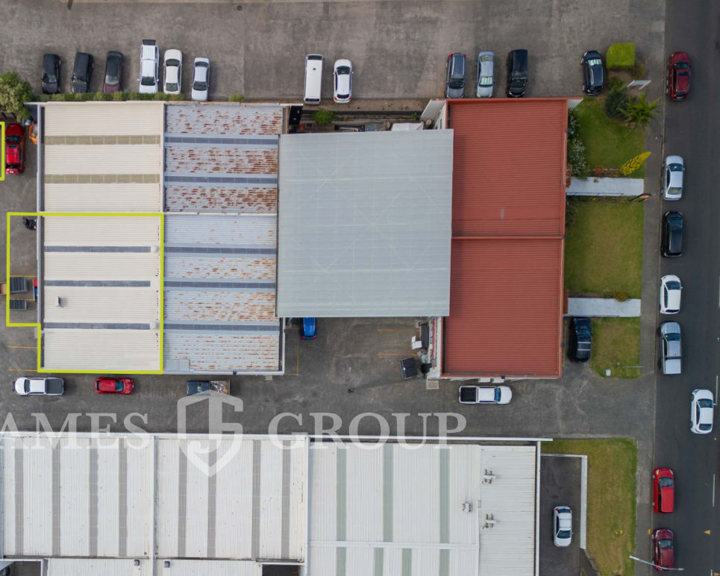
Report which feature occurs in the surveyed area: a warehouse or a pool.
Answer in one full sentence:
Of the two, only a warehouse appears.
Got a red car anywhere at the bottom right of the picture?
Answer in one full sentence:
Yes, the scene does show a red car at the bottom right of the picture.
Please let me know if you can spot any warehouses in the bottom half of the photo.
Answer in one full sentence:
Yes, you'll find a warehouse in the bottom half of the photo.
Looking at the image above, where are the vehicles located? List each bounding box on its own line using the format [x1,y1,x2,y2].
[189,57,211,101]
[662,156,686,202]
[186,380,230,399]
[303,54,326,106]
[660,212,687,258]
[505,47,530,98]
[457,384,511,406]
[567,317,593,363]
[690,389,715,435]
[659,275,684,315]
[651,528,676,571]
[69,50,93,93]
[102,50,124,93]
[445,52,468,99]
[299,318,317,342]
[666,52,692,101]
[651,468,677,513]
[580,51,604,97]
[551,506,574,547]
[14,375,65,398]
[331,59,355,105]
[40,54,62,93]
[474,51,497,98]
[138,35,160,93]
[2,127,26,176]
[658,321,685,375]
[93,378,135,396]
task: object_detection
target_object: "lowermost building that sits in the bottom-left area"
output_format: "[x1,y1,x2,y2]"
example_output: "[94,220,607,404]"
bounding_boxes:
[0,433,306,576]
